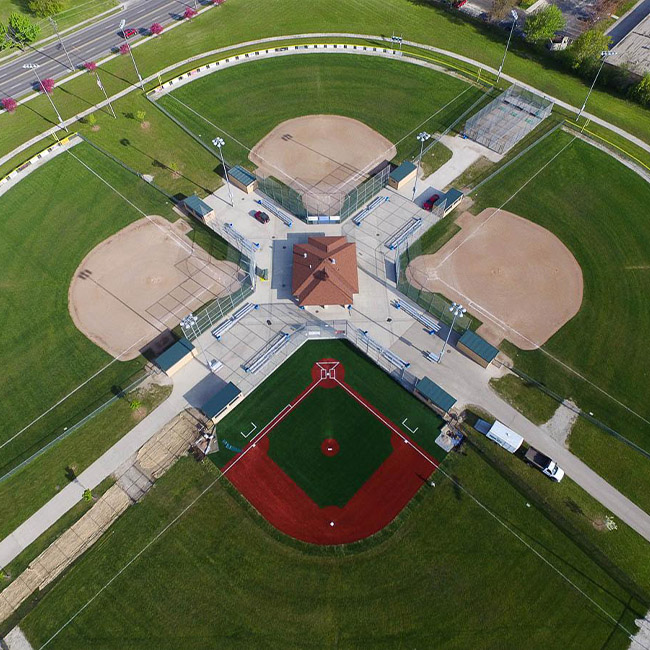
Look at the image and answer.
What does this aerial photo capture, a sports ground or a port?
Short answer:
sports ground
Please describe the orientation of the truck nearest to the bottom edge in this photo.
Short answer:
on a diagonal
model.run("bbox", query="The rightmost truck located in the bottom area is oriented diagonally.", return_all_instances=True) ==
[522,446,567,484]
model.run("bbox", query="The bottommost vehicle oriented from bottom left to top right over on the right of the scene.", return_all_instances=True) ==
[421,192,442,213]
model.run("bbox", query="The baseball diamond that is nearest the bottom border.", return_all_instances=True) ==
[20,339,649,650]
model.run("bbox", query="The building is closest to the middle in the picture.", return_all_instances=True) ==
[292,235,360,314]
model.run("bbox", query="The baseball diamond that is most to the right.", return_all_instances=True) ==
[395,120,650,456]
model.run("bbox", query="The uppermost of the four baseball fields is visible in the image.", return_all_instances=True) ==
[145,47,491,224]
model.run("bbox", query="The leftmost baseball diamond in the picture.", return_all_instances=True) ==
[0,137,256,483]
